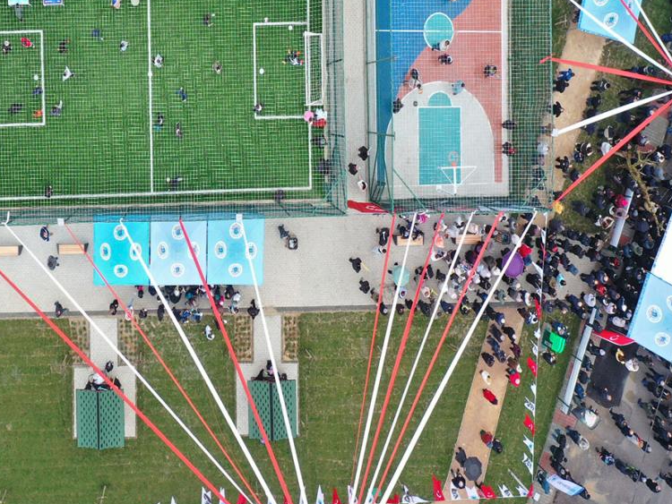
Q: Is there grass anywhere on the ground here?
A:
Yes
